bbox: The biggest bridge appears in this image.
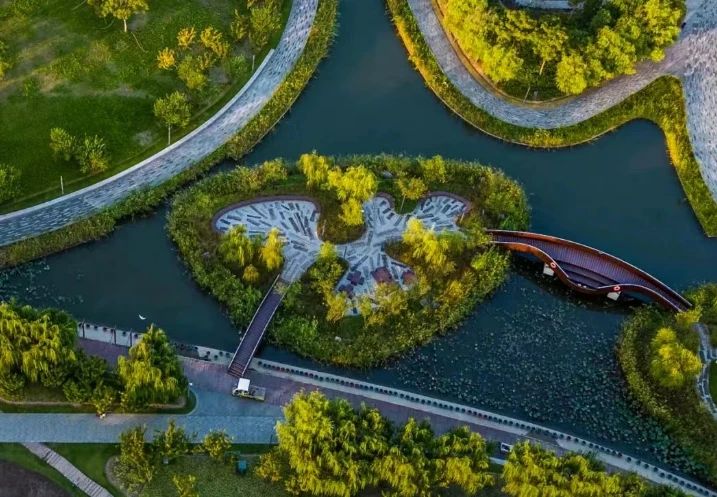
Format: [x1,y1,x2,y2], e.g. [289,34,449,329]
[484,230,685,318]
